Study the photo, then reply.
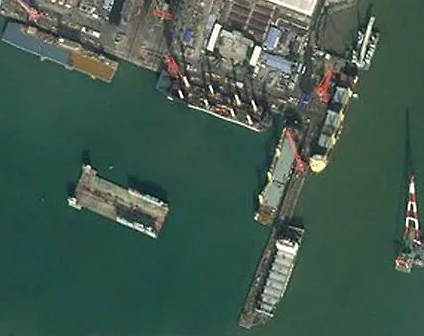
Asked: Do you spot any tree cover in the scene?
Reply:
No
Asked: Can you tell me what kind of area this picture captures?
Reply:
port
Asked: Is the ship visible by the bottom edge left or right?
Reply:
right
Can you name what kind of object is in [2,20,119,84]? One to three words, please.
ship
